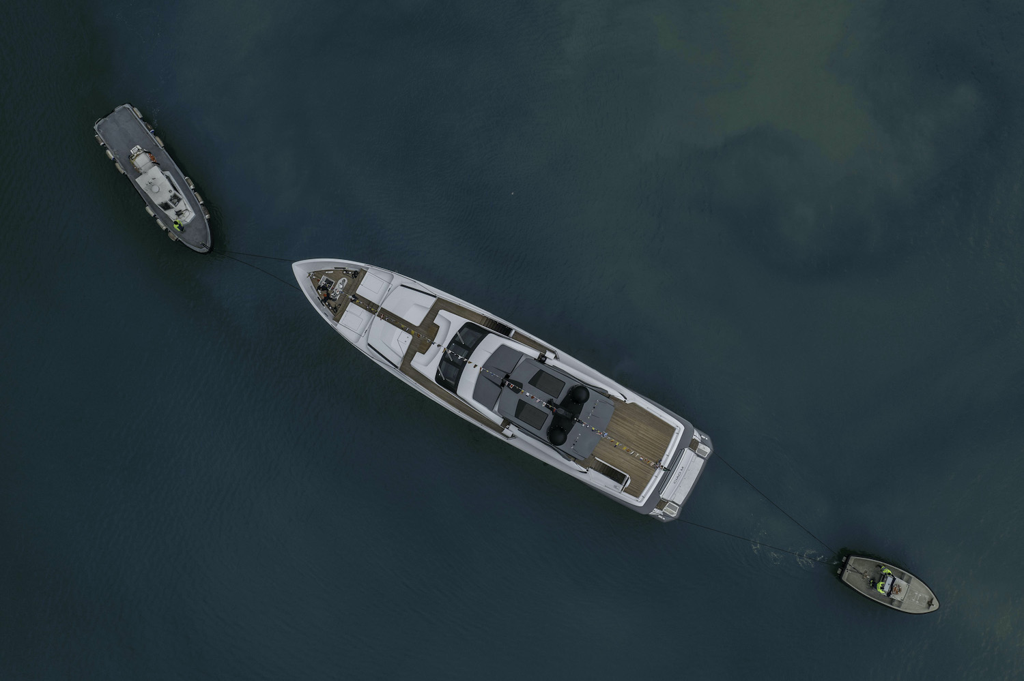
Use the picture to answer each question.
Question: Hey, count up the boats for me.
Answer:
3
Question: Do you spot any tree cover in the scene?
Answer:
No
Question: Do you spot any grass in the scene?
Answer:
No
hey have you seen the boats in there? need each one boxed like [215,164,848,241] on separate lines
[93,102,215,253]
[836,553,940,615]
[292,257,713,522]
